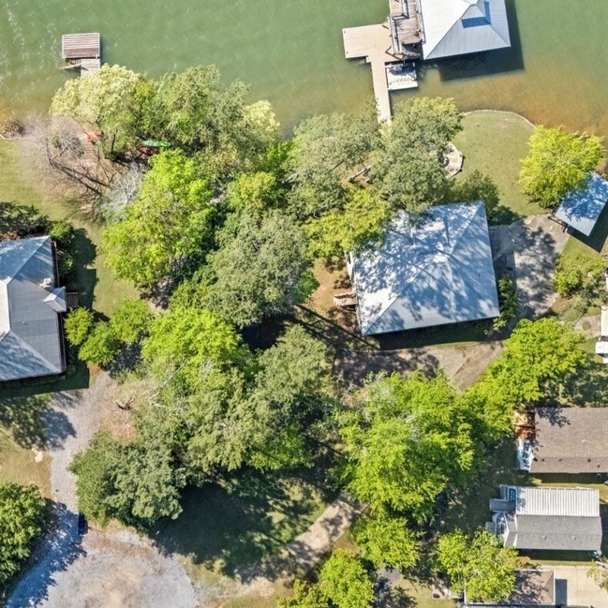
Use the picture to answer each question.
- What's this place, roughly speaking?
residential area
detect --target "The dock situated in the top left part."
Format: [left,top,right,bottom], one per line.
[61,32,101,114]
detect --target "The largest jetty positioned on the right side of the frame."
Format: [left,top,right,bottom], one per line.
[340,23,405,128]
